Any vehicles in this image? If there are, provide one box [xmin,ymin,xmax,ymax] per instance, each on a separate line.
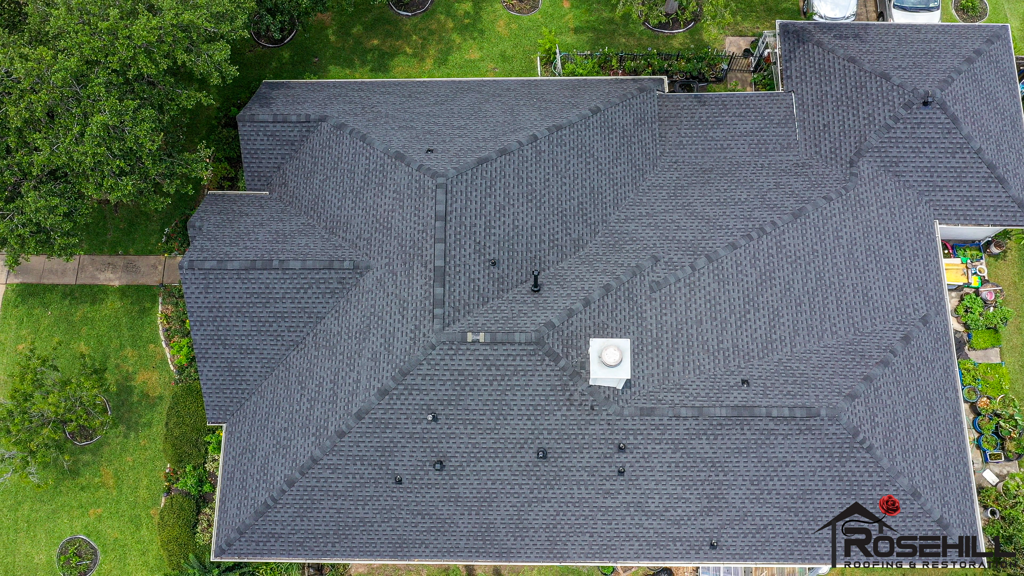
[881,0,943,22]
[799,0,856,21]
